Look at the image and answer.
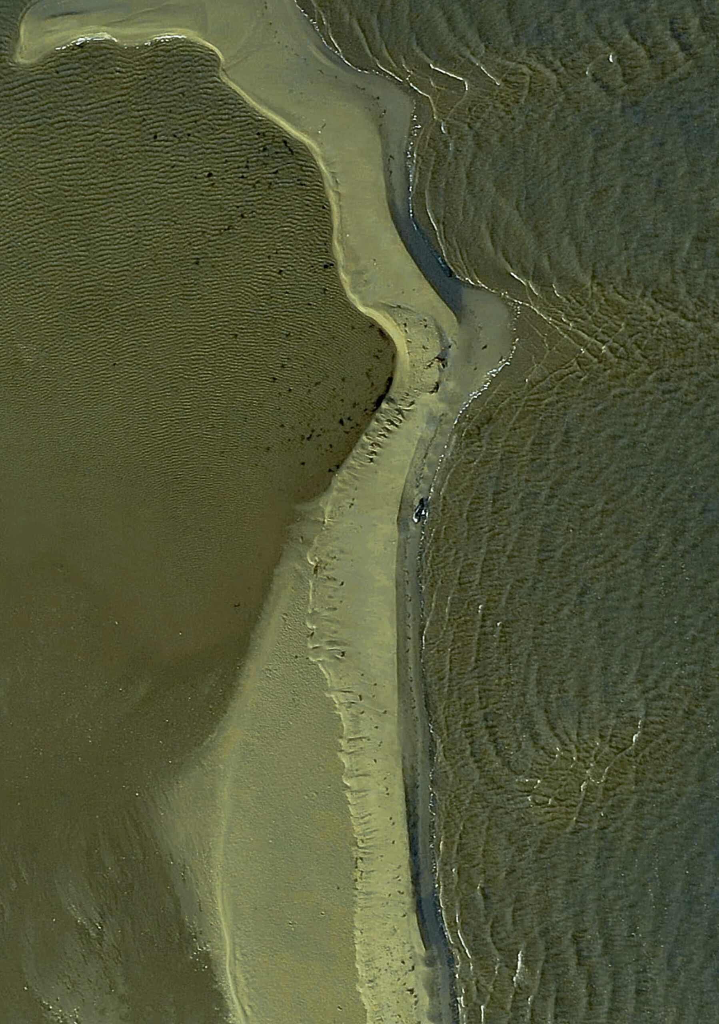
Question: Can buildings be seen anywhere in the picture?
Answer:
No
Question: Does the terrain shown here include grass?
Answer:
No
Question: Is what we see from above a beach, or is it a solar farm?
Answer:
beach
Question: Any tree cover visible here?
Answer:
No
